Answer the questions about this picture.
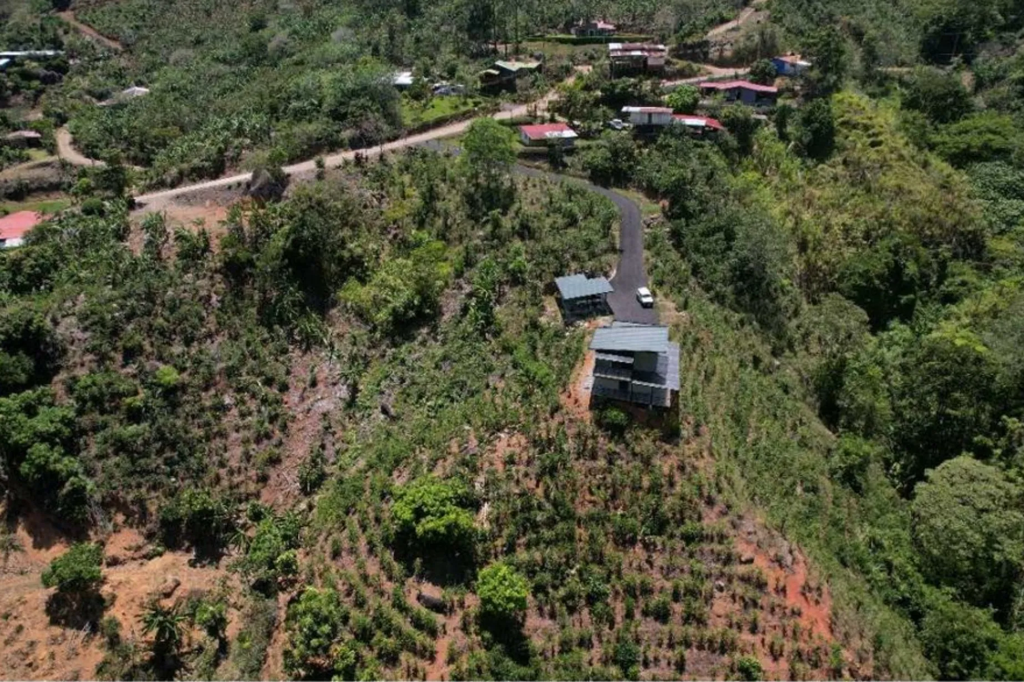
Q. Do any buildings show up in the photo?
Yes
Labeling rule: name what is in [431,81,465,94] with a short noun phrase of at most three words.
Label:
shed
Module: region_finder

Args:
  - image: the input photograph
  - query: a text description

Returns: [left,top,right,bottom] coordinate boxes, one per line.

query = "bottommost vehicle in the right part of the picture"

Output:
[636,285,653,304]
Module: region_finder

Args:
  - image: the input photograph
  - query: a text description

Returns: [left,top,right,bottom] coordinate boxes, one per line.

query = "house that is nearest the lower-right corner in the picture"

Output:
[584,324,683,427]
